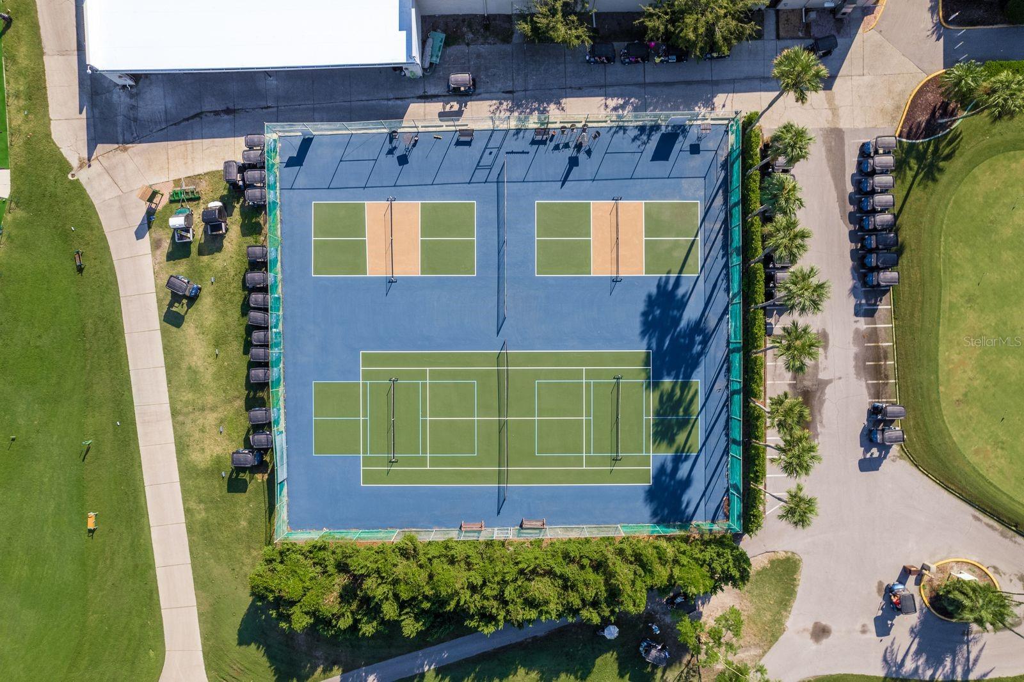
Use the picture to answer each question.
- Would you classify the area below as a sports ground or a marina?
sports ground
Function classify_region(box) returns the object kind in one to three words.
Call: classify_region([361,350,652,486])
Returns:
tennis court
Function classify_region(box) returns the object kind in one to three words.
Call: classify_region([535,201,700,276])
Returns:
sports court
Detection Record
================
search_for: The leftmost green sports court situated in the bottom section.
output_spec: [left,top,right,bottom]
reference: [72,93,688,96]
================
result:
[313,382,476,456]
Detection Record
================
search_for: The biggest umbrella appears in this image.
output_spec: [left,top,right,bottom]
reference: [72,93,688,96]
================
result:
[600,624,615,640]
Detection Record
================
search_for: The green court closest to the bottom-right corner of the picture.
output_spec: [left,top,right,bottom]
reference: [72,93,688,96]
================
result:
[536,381,700,455]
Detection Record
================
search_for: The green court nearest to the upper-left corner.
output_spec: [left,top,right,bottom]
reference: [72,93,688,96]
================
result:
[313,202,476,276]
